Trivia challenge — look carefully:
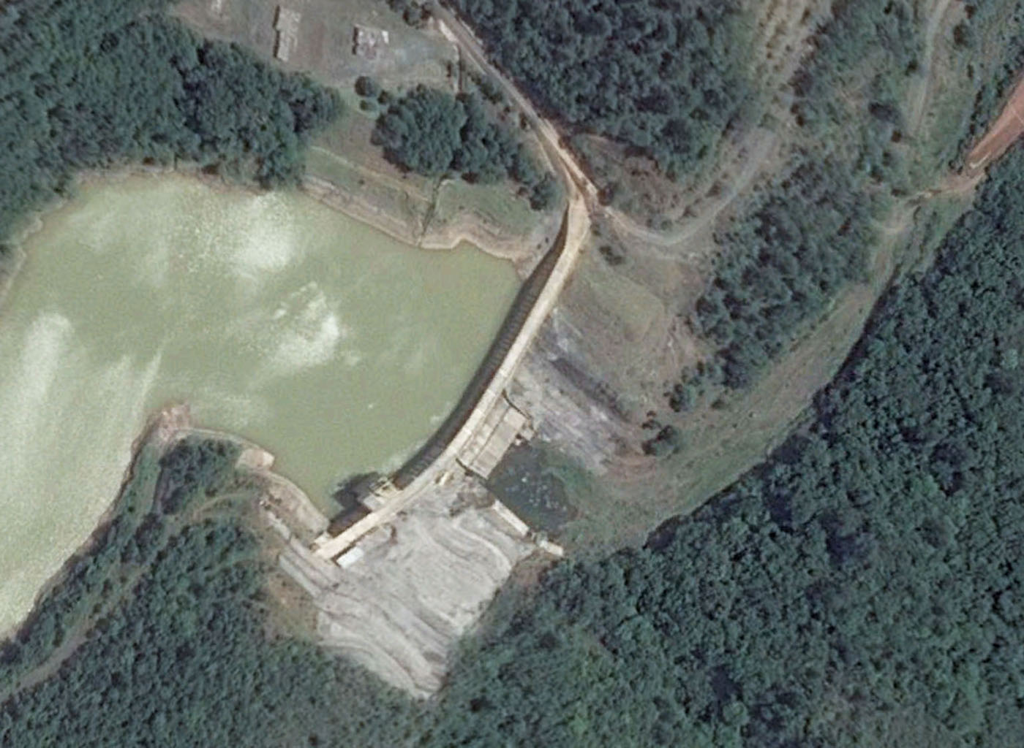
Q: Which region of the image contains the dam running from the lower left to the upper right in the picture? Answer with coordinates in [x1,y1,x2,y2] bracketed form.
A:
[317,198,588,559]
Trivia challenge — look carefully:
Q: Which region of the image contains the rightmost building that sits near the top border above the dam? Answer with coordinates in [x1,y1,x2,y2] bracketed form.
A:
[355,25,388,56]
